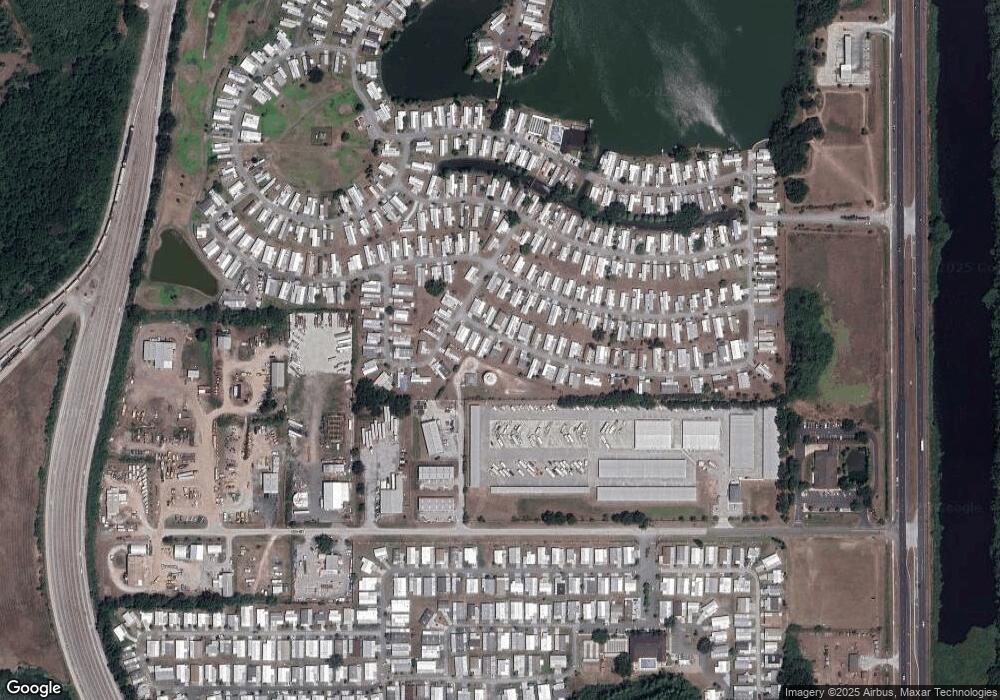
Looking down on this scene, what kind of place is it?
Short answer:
residential area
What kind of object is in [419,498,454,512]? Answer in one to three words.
building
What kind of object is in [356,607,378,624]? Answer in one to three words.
house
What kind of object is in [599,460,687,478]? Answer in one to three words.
building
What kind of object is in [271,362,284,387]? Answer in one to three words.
barn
